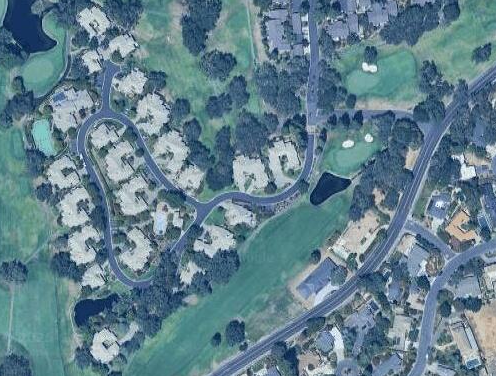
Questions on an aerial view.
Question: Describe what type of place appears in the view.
golf course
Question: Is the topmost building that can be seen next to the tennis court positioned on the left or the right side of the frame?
left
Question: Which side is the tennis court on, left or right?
left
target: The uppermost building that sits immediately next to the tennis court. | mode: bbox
[52,90,96,129]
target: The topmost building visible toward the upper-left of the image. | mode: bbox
[76,5,111,39]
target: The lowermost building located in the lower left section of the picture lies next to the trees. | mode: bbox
[90,326,123,364]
